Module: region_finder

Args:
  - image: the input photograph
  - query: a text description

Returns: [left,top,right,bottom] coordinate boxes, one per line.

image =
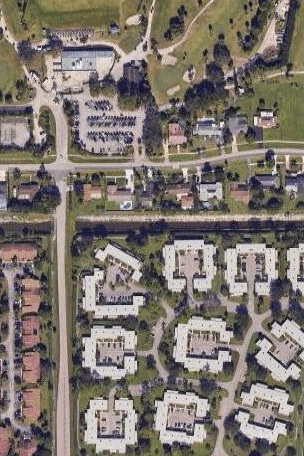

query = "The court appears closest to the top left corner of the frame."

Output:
[1,118,30,145]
